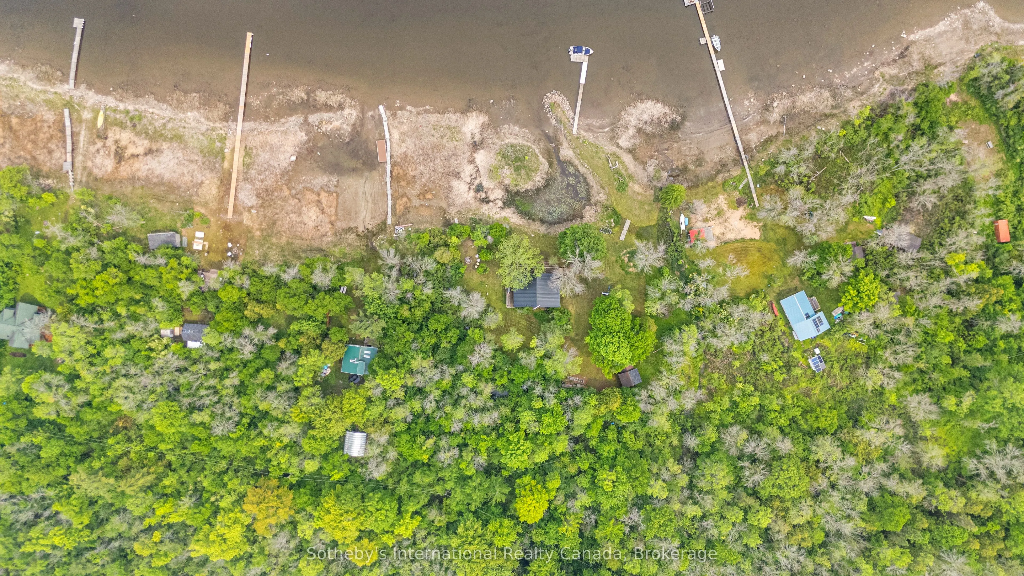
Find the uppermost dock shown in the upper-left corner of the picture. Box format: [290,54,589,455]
[69,18,85,89]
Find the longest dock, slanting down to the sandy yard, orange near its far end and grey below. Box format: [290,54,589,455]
[684,0,757,205]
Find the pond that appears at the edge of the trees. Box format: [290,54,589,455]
[509,150,592,224]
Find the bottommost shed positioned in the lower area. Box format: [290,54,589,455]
[344,432,367,458]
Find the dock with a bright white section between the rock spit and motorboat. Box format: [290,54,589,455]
[569,55,589,135]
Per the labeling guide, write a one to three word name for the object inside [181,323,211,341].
building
